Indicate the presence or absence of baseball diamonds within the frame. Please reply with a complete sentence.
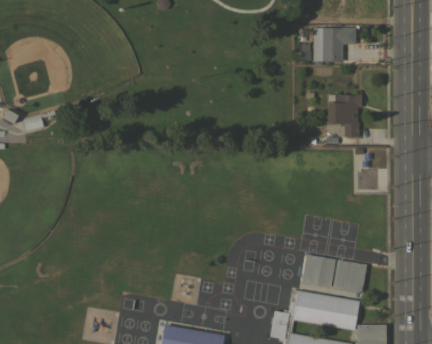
Yes, this view includes a baseball diamond.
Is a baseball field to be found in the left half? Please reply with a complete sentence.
Yes, in the left half there is a baseball field.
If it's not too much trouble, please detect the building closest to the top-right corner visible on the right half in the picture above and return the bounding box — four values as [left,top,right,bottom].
[314,28,356,62]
